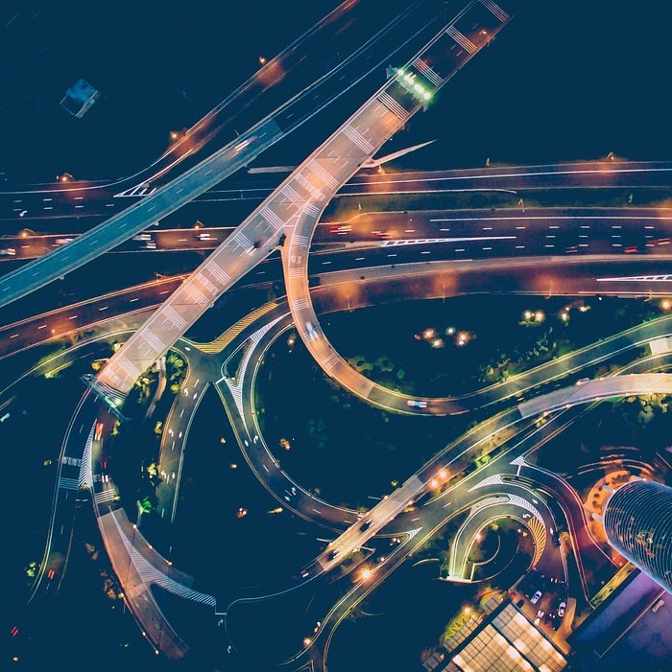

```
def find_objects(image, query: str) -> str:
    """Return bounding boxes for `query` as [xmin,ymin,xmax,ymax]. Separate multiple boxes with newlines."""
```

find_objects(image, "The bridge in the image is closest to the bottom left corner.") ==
[94,501,217,672]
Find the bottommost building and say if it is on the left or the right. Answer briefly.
right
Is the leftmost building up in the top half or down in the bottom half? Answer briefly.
top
